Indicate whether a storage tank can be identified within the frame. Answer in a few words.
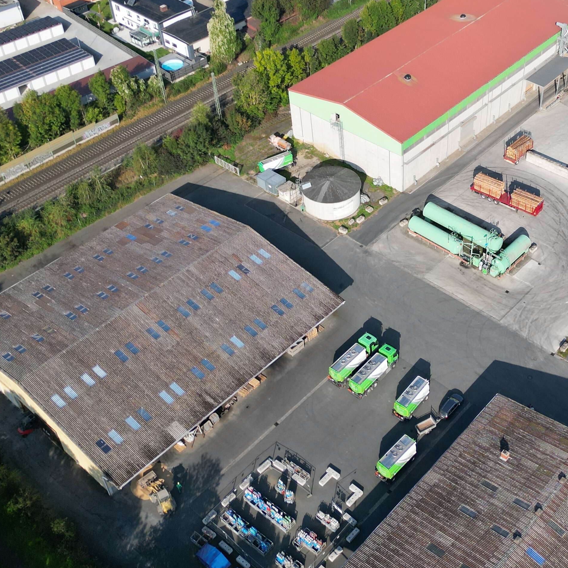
Yes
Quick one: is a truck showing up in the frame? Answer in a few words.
Yes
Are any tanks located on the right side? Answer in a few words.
Yes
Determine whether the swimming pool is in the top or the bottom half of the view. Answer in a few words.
top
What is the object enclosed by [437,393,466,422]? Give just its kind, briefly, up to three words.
car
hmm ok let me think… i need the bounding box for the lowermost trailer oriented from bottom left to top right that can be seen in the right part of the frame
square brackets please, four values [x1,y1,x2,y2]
[374,432,417,484]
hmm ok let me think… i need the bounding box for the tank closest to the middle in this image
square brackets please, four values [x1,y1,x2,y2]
[299,174,355,225]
